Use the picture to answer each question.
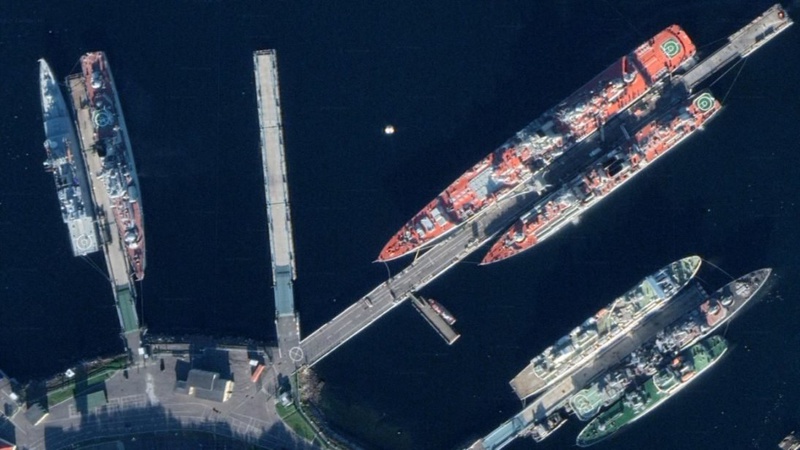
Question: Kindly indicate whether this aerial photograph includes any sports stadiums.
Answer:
No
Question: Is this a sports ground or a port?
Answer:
port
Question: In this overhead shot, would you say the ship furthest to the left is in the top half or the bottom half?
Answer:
top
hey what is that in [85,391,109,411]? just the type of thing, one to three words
shed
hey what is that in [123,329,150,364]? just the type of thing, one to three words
pier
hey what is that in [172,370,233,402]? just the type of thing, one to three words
building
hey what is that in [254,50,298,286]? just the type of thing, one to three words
pier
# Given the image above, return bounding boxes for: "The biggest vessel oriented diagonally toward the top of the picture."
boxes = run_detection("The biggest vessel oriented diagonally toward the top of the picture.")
[371,27,697,264]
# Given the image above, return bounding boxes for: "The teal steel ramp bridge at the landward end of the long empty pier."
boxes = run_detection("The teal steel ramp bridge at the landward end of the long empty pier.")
[274,265,294,316]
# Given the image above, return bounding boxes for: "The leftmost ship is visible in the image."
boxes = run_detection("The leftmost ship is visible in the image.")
[38,58,101,256]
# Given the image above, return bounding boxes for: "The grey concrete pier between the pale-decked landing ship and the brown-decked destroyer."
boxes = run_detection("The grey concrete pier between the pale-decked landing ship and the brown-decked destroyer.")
[512,282,712,435]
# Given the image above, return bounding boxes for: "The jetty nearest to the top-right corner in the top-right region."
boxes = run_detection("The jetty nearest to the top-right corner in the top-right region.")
[728,4,795,60]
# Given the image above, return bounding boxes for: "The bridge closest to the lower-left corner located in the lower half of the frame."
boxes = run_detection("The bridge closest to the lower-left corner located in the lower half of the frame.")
[113,286,141,334]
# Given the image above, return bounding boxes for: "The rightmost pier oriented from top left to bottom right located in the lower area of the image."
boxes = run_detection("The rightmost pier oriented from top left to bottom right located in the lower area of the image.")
[409,293,462,346]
